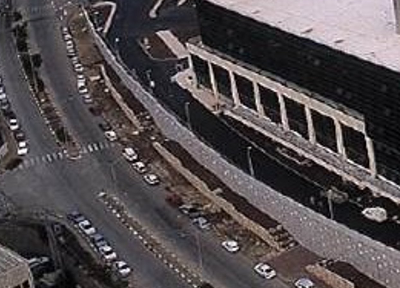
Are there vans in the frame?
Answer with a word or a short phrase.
Yes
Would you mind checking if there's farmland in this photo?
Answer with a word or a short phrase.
No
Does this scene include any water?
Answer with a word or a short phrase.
No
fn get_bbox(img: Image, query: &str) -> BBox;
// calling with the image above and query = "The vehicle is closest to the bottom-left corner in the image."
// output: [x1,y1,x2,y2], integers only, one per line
[26,241,51,265]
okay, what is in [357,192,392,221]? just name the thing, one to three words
van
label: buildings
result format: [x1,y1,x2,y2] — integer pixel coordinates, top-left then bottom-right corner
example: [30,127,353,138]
[0,246,36,288]
[180,0,400,184]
